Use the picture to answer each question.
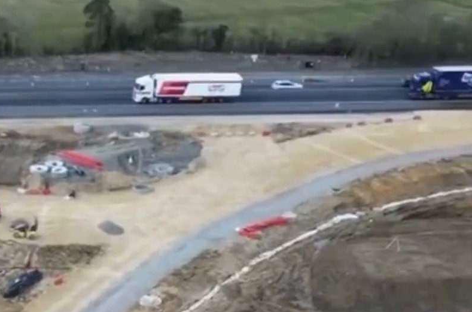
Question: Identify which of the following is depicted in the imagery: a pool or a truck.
truck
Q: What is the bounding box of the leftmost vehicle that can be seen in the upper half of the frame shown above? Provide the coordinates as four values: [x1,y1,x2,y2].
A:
[135,70,247,104]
